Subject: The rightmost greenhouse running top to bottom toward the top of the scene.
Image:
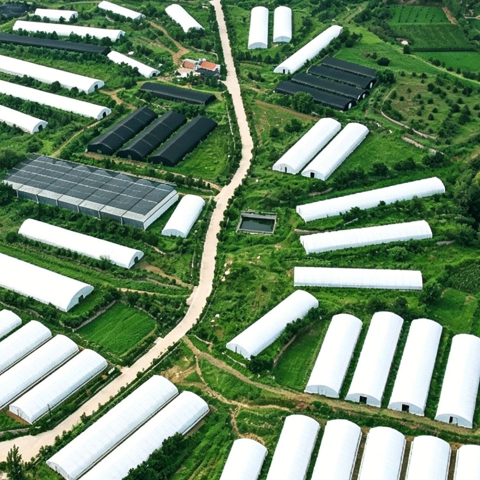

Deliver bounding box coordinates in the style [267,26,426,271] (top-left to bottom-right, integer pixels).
[274,2,291,42]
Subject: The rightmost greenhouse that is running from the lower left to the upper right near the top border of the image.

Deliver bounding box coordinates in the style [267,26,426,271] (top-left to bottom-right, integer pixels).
[275,22,343,74]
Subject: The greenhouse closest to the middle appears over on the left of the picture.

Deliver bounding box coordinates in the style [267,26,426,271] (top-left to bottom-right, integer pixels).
[162,194,205,238]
